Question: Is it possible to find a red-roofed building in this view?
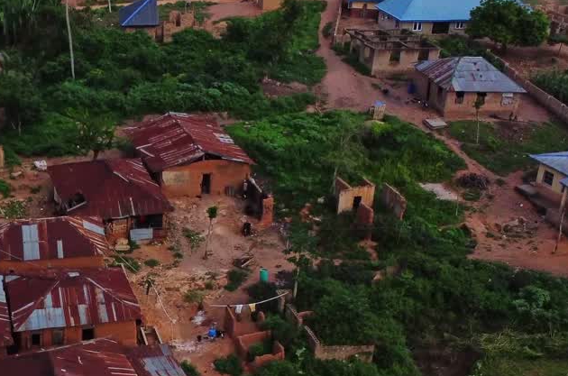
Yes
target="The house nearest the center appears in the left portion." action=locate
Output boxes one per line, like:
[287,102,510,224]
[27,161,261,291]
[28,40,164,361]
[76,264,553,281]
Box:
[124,111,257,197]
